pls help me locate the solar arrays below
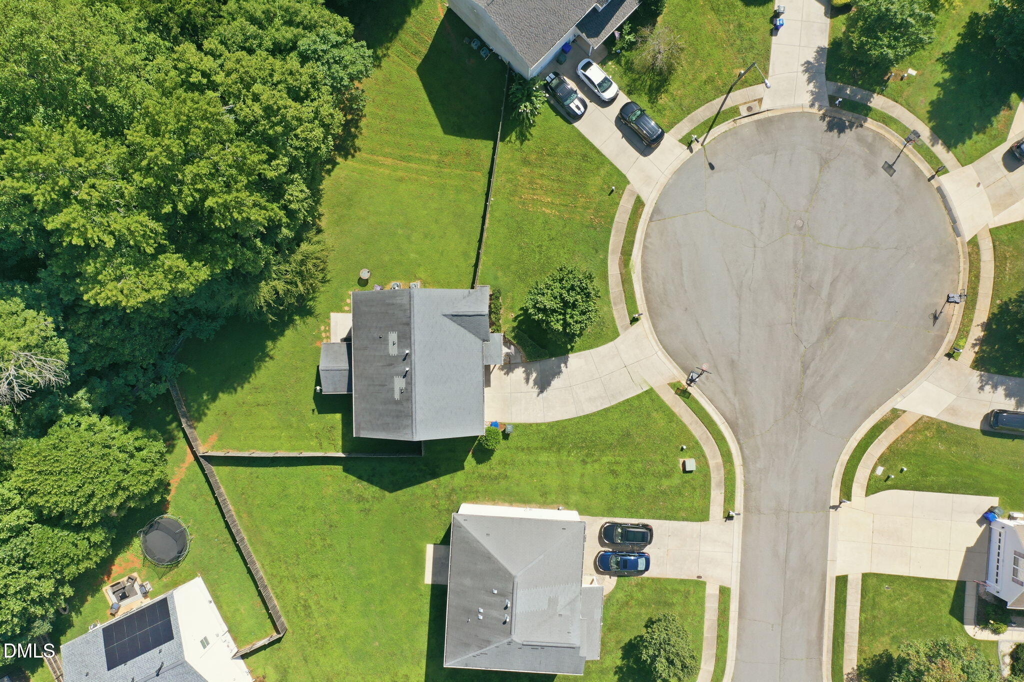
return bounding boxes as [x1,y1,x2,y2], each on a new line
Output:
[102,597,173,670]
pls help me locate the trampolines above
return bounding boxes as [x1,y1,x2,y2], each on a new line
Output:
[138,514,193,567]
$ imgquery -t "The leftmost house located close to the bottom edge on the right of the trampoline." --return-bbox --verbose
[443,505,605,676]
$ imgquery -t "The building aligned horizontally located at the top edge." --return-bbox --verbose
[447,0,641,80]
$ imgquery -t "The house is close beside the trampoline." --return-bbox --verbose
[60,578,242,682]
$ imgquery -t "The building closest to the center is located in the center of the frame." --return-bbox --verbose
[319,284,505,440]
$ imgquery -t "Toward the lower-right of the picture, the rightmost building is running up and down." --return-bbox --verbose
[989,521,1024,608]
